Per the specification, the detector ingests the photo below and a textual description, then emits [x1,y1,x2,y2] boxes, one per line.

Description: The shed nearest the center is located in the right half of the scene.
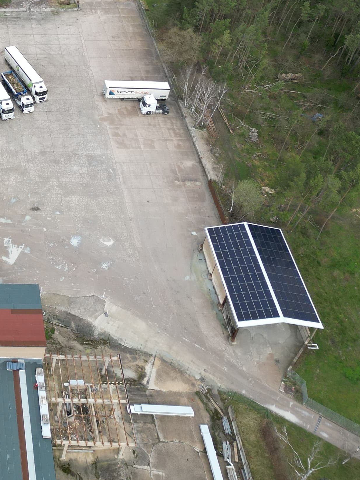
[200,223,323,345]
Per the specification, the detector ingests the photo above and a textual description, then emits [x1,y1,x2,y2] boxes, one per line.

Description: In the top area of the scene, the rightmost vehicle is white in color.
[140,94,171,114]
